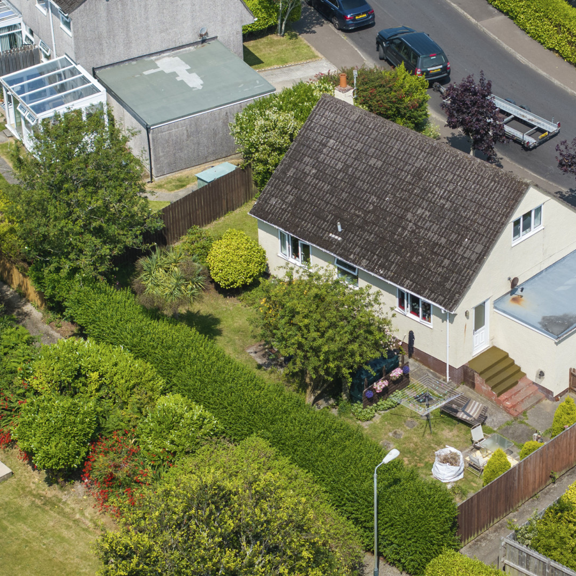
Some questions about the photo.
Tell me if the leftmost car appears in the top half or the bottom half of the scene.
top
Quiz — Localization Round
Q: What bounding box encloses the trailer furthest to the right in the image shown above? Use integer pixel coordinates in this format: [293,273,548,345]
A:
[436,83,559,148]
